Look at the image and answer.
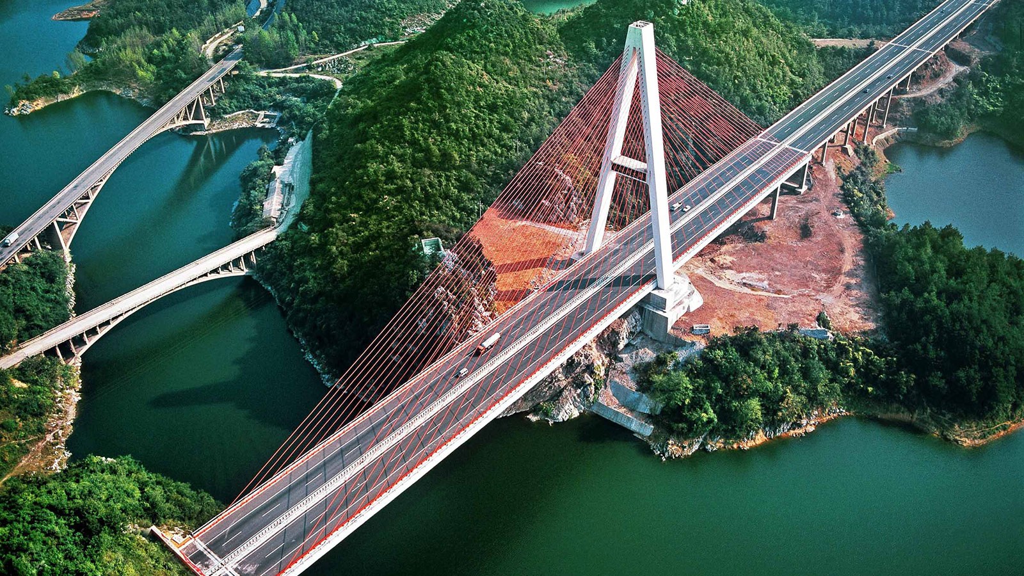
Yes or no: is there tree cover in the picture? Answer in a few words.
Yes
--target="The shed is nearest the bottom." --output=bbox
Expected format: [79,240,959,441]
[260,180,286,229]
